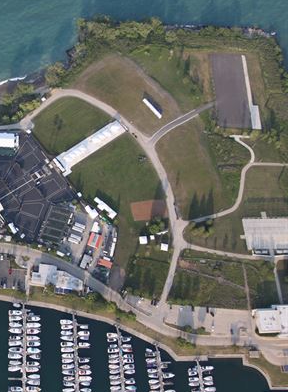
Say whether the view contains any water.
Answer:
Yes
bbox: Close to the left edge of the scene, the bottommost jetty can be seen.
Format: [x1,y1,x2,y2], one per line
[8,299,42,392]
